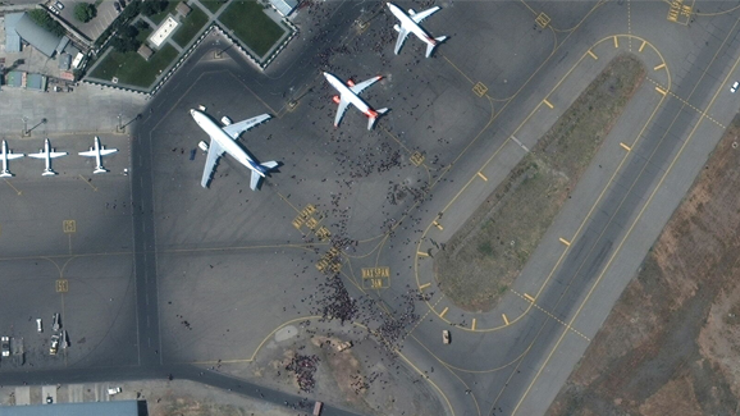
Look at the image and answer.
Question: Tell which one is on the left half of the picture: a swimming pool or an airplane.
airplane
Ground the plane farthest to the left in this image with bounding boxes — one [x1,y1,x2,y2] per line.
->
[0,141,24,176]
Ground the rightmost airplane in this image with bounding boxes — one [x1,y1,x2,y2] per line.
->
[387,3,447,56]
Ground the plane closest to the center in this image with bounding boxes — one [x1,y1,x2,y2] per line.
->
[324,72,390,127]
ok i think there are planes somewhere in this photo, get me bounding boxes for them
[0,141,24,176]
[324,72,390,127]
[27,139,67,176]
[387,3,447,56]
[77,136,118,173]
[190,109,279,191]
